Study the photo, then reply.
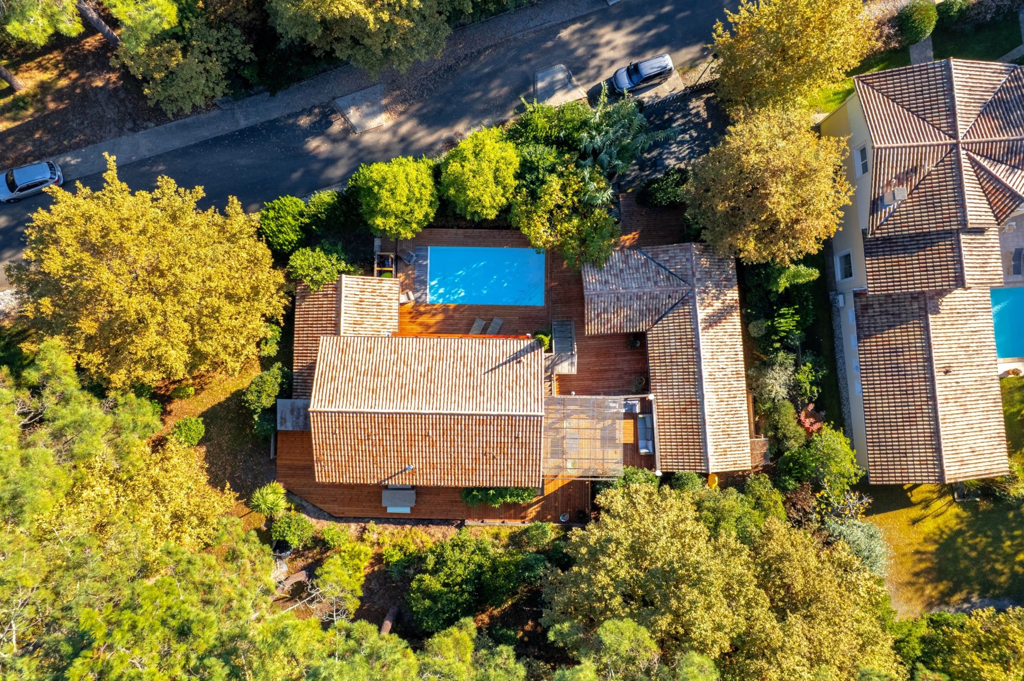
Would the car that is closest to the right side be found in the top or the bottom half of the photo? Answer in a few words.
top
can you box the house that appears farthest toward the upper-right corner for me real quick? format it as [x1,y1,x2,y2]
[822,58,1024,485]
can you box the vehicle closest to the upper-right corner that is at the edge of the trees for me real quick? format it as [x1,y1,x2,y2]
[611,50,677,96]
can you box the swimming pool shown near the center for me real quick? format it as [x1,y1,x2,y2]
[415,246,545,305]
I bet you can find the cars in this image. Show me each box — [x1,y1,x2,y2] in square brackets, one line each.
[0,160,62,200]
[611,50,677,96]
